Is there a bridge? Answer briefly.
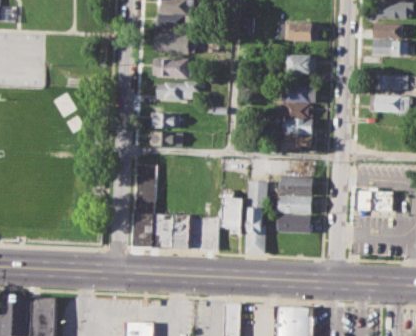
No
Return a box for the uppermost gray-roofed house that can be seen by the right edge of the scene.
[376,0,414,20]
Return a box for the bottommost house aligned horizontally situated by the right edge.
[370,94,410,115]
